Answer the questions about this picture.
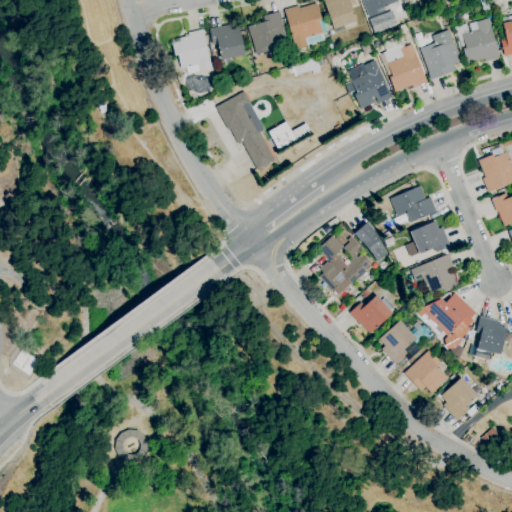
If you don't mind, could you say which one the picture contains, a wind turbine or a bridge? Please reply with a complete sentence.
The image shows a bridge.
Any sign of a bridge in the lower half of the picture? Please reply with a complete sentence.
Yes, a bridge can be seen in the lower half of the picture.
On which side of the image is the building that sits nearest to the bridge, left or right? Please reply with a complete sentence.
The building that sits nearest to the bridge appears in the left half of the scene.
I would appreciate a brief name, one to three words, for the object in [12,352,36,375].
building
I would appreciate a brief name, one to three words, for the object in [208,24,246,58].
house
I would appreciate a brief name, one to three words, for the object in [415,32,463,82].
house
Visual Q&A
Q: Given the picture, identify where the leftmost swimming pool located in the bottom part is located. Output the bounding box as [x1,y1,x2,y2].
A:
[414,324,434,344]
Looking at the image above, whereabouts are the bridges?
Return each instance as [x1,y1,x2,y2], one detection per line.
[30,256,223,410]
